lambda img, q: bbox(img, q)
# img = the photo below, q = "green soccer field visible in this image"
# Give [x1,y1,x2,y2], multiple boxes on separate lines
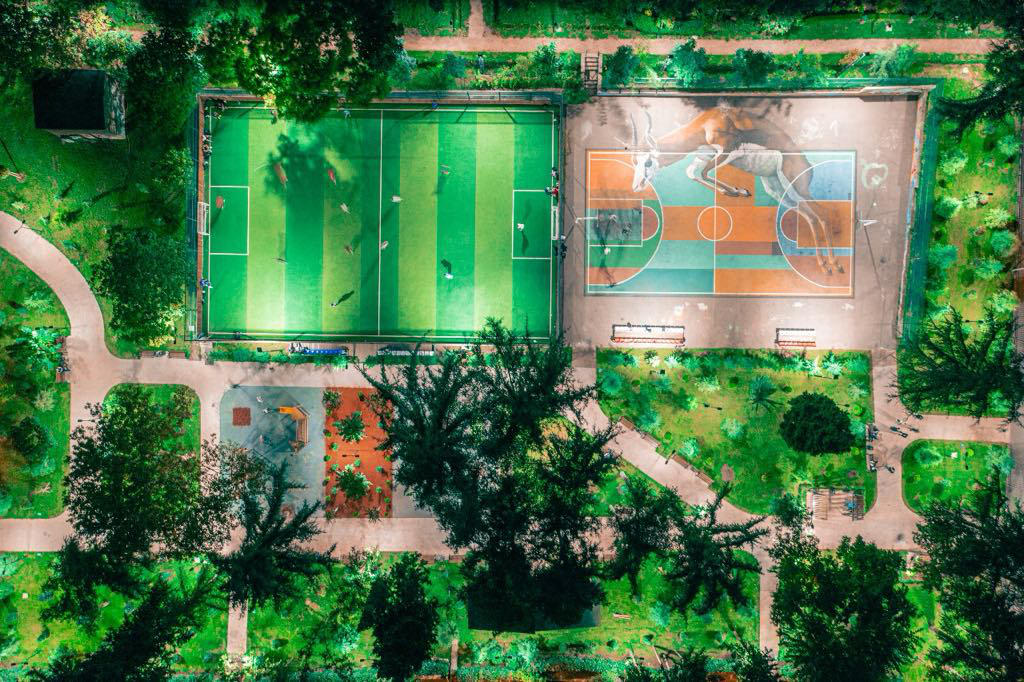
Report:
[203,101,560,342]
